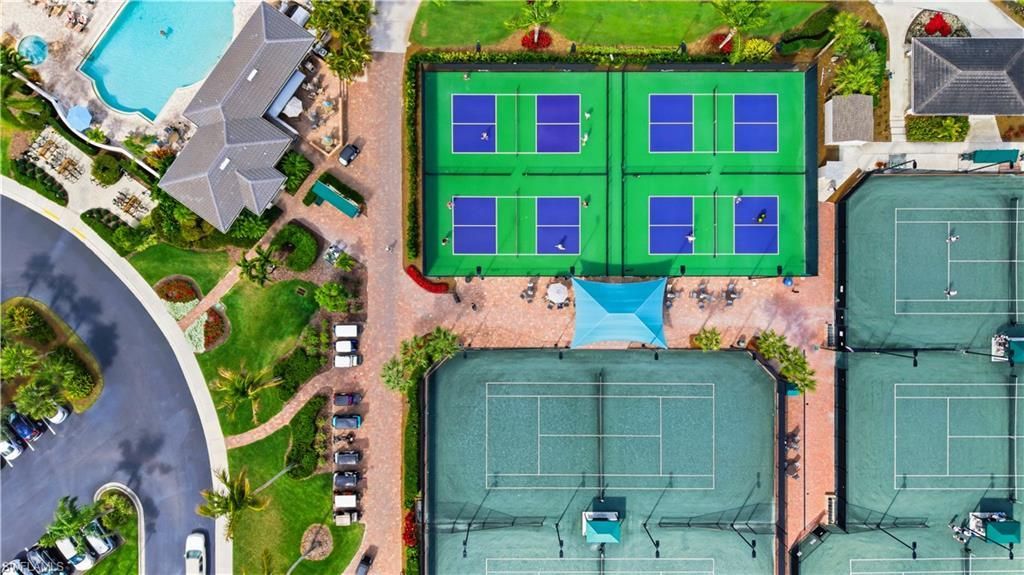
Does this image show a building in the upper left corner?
Yes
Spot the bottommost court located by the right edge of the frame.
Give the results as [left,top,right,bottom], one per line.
[792,525,1024,575]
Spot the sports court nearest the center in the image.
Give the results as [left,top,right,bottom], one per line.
[425,174,615,275]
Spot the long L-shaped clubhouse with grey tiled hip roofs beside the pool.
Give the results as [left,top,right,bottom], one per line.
[158,1,315,234]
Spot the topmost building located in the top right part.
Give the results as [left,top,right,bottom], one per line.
[895,37,1024,117]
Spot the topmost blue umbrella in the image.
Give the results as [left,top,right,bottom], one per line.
[68,106,97,130]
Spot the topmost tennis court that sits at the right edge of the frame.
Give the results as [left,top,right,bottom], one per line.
[838,175,1024,349]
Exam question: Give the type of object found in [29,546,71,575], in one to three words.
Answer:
car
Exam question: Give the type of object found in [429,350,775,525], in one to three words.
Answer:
tennis court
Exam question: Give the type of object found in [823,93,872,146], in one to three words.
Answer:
shed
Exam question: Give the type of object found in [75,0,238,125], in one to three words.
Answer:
swimming pool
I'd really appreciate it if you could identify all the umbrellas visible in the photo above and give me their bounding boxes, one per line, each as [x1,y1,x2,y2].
[284,97,304,118]
[68,106,97,130]
[547,282,569,304]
